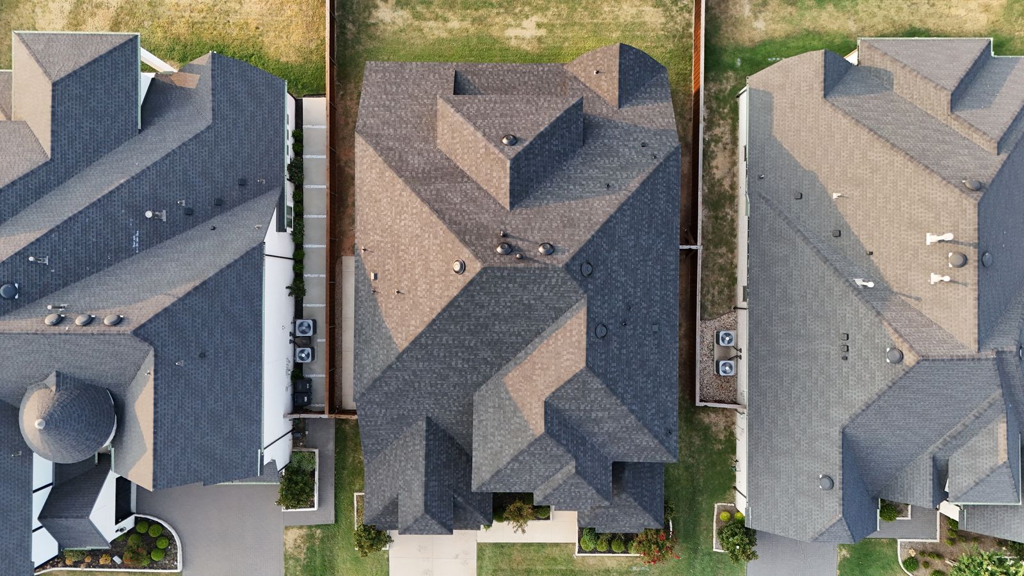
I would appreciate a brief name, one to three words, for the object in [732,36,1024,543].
house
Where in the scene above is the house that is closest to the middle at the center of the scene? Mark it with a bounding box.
[353,41,681,536]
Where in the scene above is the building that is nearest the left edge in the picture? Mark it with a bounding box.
[0,31,301,576]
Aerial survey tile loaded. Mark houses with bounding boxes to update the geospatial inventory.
[353,41,681,536]
[0,31,301,576]
[732,36,1024,543]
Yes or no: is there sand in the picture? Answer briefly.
No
